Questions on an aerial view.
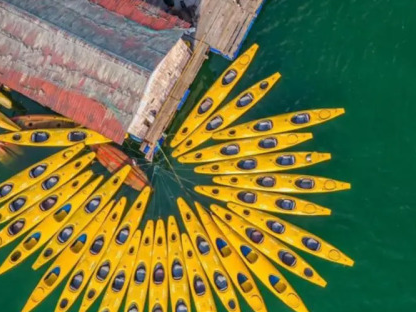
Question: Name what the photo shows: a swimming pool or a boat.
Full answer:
I can see a boat in this picture.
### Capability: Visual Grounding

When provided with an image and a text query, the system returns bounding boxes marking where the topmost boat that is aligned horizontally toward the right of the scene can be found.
[212,107,345,138]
